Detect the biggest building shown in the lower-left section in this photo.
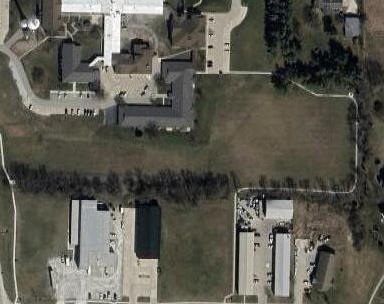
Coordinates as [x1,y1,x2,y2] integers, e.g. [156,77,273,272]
[72,199,109,268]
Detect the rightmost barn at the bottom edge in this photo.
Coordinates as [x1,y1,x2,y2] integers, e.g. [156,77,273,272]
[310,250,337,292]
